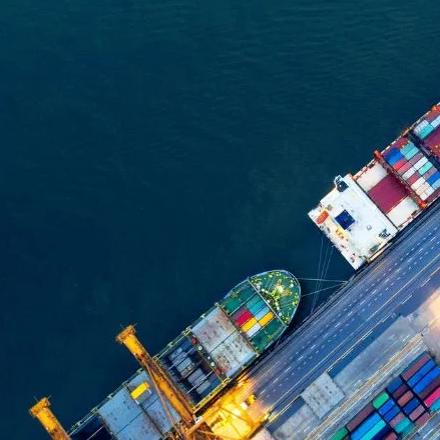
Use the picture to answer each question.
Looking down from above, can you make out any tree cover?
No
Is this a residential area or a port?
port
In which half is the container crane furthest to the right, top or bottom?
bottom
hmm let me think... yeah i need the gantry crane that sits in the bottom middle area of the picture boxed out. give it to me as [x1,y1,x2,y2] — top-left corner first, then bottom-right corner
[109,327,277,440]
